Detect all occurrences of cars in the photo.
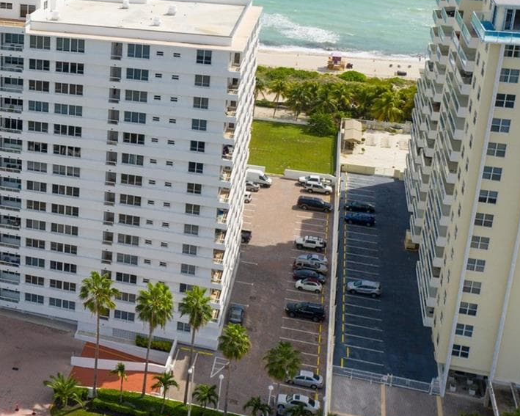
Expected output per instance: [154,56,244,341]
[245,181,266,194]
[287,303,325,323]
[241,229,255,244]
[294,235,326,253]
[300,198,330,213]
[296,277,323,293]
[292,268,328,282]
[296,251,329,266]
[294,259,329,274]
[346,201,376,214]
[228,303,245,324]
[347,280,384,298]
[285,370,324,391]
[304,183,333,197]
[277,392,321,415]
[244,191,258,205]
[345,212,377,228]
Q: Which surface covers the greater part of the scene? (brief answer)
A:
buildings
